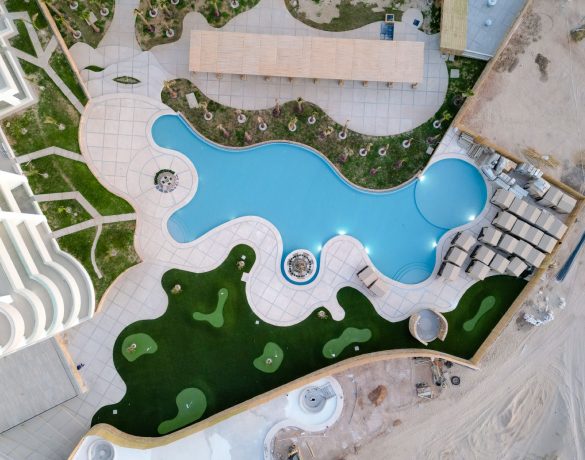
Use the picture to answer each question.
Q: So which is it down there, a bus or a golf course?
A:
golf course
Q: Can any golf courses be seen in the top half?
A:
No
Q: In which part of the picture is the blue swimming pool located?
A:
center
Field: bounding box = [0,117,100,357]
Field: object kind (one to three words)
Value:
building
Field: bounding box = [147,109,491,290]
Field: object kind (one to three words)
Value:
swimming pool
